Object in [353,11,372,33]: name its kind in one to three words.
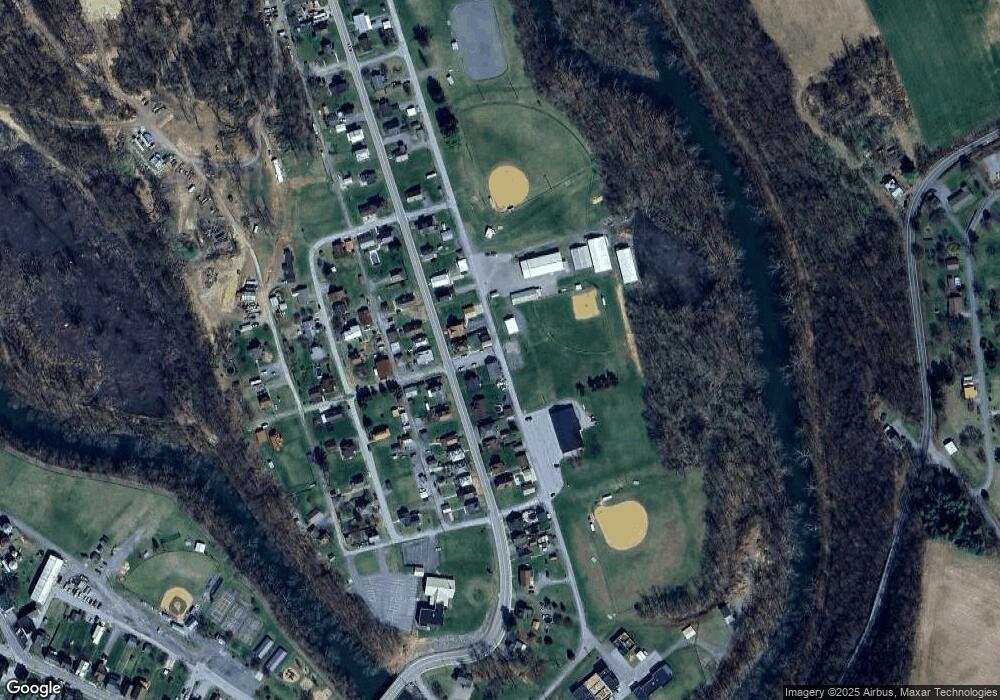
house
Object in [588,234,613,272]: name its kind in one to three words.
barn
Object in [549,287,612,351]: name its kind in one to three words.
baseball field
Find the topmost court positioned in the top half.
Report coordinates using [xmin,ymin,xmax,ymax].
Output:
[450,0,508,81]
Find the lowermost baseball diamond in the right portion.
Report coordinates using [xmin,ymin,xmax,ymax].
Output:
[588,474,702,604]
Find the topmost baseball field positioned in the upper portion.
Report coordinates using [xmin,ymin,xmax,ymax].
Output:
[462,103,593,215]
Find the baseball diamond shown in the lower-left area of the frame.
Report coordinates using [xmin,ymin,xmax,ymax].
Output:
[122,551,220,625]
